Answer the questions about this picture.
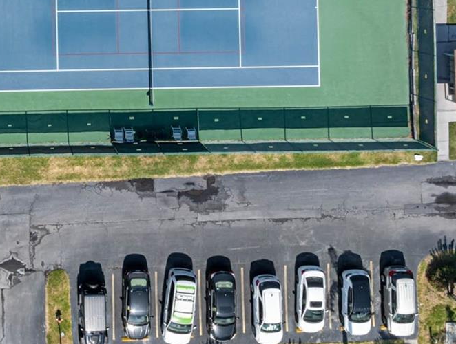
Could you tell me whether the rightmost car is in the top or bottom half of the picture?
bottom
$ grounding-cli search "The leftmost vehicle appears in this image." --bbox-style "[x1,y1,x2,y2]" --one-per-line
[77,280,111,344]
